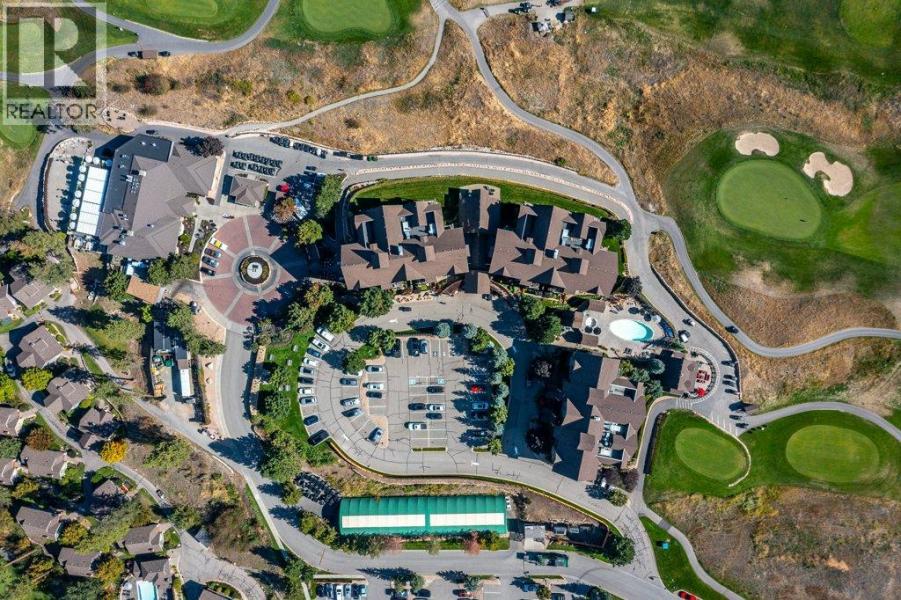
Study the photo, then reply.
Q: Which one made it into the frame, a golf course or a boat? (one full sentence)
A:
Visible in the photo is a golf course.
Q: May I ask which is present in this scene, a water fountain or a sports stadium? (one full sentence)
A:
Of the two, only a water fountain appears.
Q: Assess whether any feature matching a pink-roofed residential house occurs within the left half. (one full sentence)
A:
No, no pink-roofed residential house can be made out within the left half.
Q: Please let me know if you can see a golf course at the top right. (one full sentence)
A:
Yes, a golf course is visible at the top right.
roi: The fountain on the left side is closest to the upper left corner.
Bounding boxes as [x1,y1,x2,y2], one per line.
[238,255,269,285]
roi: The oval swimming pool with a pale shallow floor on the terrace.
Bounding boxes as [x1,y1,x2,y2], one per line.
[609,318,655,341]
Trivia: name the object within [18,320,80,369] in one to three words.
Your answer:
house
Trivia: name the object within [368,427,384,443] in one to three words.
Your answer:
car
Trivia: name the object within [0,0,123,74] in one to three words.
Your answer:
golf course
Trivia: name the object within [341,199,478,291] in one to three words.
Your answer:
building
